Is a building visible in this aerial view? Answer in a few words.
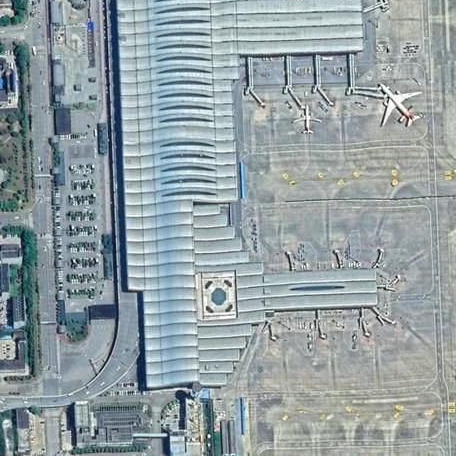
Yes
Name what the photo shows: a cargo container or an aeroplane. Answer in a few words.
aeroplane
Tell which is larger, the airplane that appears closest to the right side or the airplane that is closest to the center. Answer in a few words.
the airplane that appears closest to the right side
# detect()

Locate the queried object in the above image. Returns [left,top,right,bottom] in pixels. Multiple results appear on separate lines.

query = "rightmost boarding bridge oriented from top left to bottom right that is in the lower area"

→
[371,306,397,327]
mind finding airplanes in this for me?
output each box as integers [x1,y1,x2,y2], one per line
[293,105,322,133]
[378,84,422,125]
